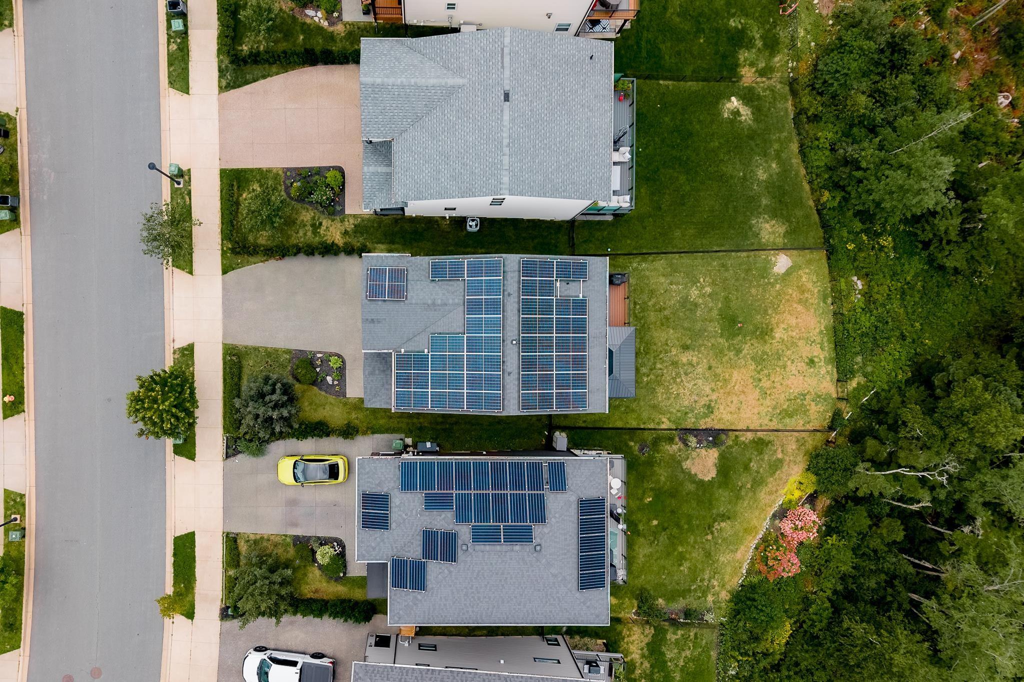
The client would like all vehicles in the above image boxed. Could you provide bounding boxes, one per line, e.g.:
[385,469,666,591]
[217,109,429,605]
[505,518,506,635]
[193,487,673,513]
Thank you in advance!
[278,453,349,487]
[241,643,335,682]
